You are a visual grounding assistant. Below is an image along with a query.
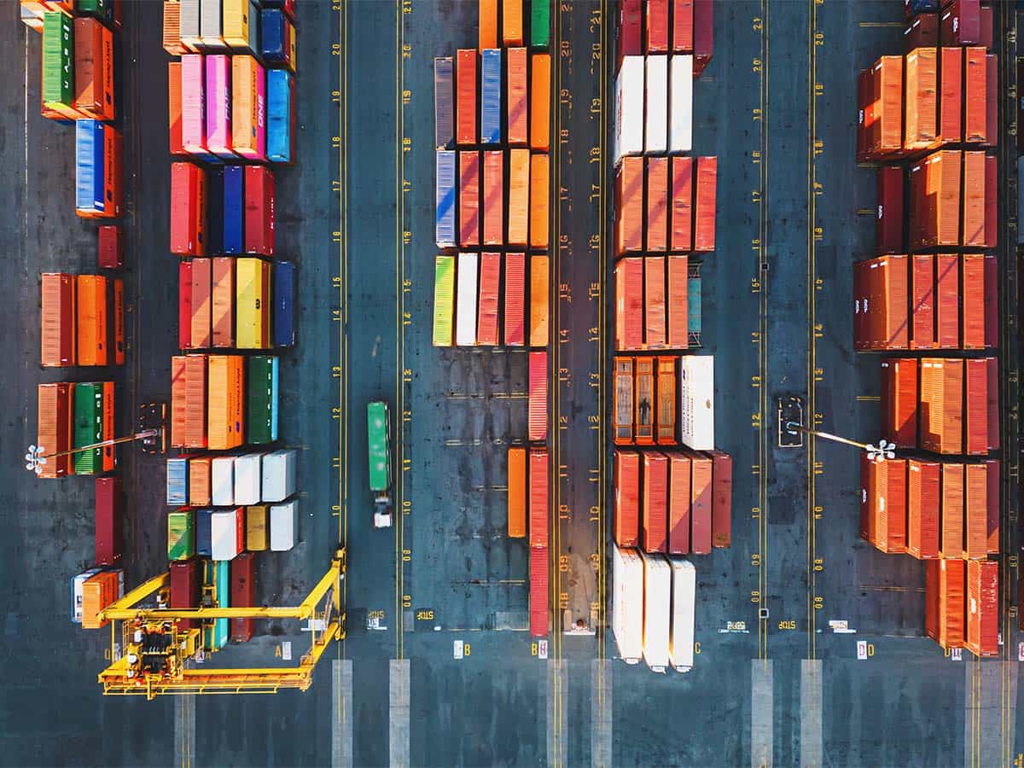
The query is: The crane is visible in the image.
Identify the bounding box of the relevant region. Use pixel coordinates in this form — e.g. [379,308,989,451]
[100,550,345,706]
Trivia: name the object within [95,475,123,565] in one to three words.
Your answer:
shipping container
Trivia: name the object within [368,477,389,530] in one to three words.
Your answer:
truck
